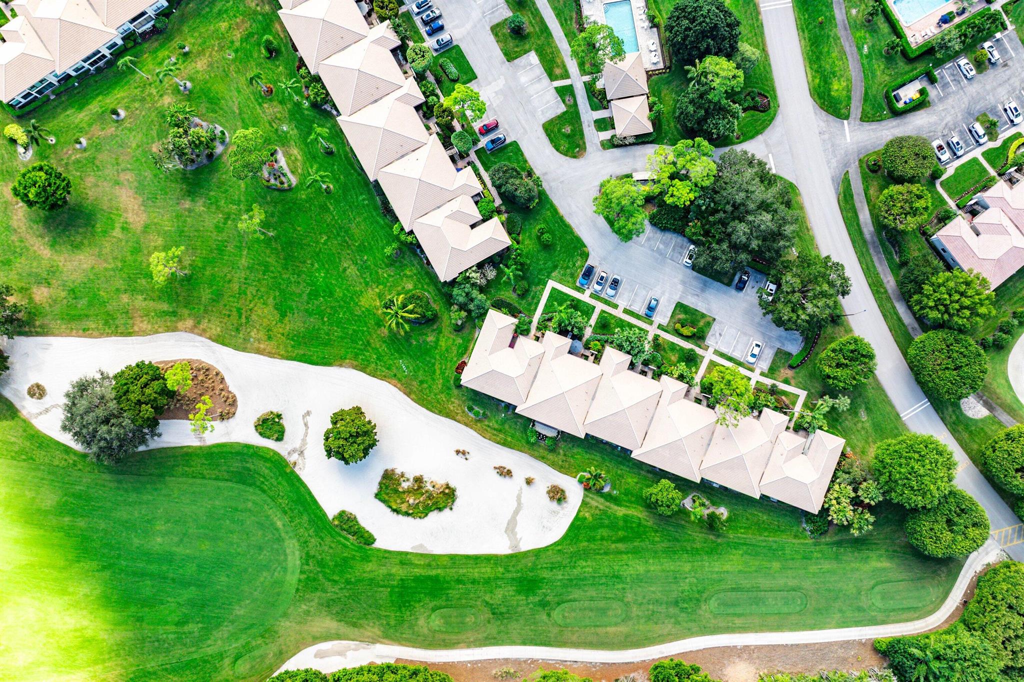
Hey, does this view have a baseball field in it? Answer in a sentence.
No, the picture doesn't show any baseball field.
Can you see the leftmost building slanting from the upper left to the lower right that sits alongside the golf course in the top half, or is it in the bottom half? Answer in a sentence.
It is in the top half that the leftmost building slanting from the upper left to the lower right that sits alongside the golf course appears.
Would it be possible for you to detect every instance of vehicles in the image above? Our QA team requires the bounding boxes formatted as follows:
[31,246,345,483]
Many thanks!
[681,243,697,268]
[968,120,987,146]
[578,262,595,288]
[1003,100,1023,126]
[644,294,659,318]
[476,117,501,136]
[417,6,443,25]
[429,32,455,52]
[931,138,950,164]
[734,266,752,293]
[946,134,965,158]
[605,273,622,299]
[483,133,509,152]
[593,269,609,293]
[957,57,976,81]
[981,40,1000,65]
[423,18,447,37]
[745,339,763,365]
[409,0,435,16]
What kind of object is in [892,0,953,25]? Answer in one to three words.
swimming pool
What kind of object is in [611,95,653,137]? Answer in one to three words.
building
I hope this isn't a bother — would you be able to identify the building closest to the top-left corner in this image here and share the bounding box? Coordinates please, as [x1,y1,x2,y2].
[0,0,202,106]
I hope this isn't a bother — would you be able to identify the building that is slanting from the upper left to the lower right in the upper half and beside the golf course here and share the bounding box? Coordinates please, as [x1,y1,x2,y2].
[277,0,510,281]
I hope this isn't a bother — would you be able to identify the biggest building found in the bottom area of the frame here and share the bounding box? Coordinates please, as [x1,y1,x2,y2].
[460,308,846,514]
